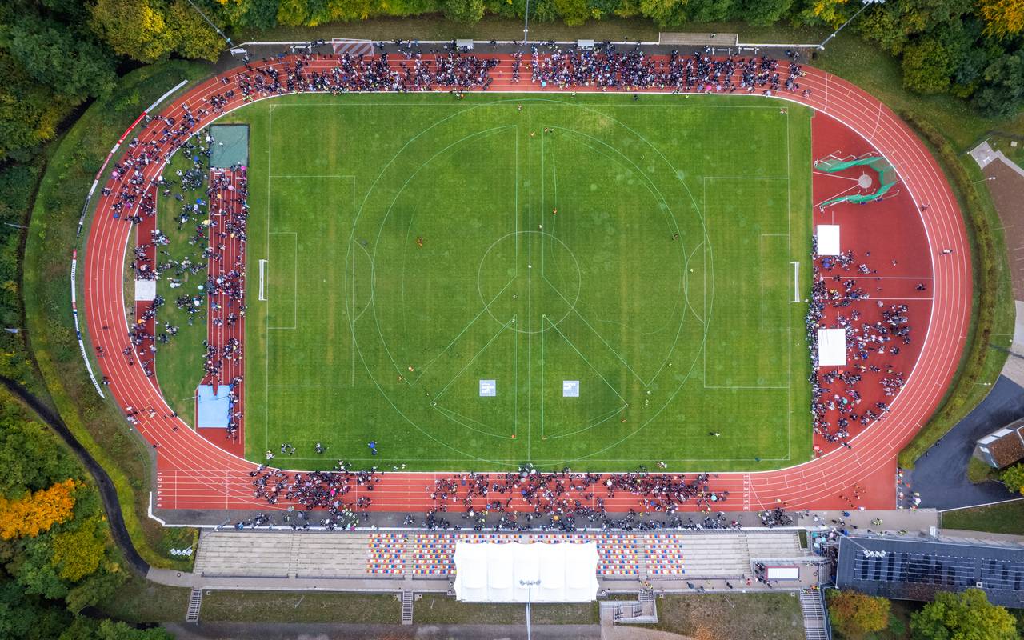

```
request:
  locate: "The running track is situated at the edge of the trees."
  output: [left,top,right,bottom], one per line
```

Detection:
[83,54,972,512]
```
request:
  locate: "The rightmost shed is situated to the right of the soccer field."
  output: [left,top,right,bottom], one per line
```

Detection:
[968,411,1024,468]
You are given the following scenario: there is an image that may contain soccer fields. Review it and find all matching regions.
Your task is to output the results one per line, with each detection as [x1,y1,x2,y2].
[247,93,813,472]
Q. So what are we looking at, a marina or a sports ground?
sports ground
